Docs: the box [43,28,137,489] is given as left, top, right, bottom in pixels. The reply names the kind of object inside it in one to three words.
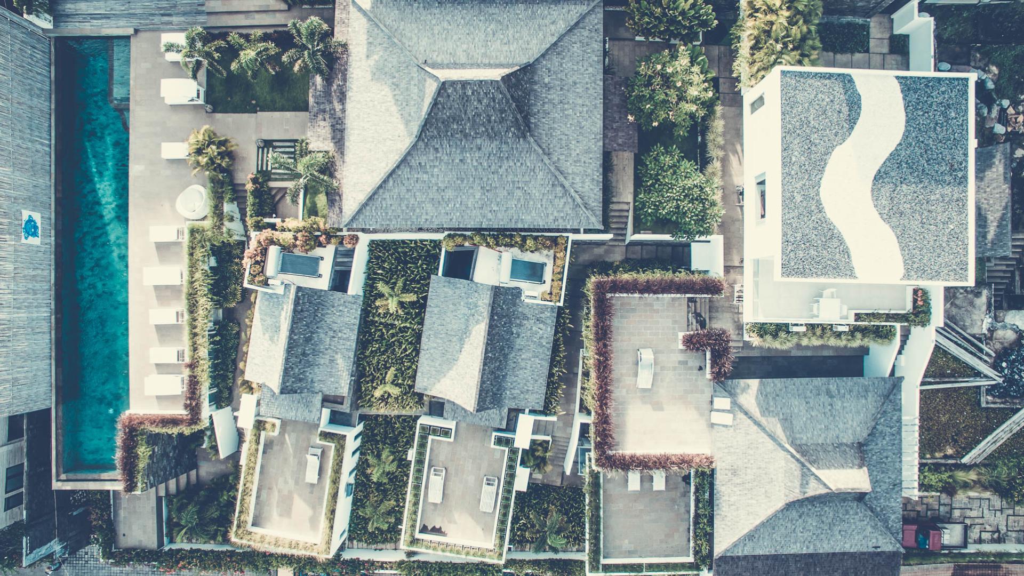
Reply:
swimming pool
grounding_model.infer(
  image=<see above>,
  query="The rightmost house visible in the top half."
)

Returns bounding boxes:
[742,68,978,326]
